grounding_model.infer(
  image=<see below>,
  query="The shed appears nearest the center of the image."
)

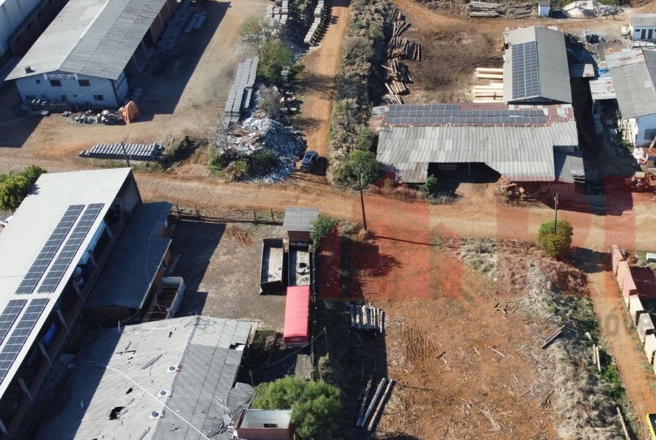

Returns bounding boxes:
[282,209,318,246]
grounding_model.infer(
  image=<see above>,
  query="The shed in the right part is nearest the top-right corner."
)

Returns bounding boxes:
[631,17,656,37]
